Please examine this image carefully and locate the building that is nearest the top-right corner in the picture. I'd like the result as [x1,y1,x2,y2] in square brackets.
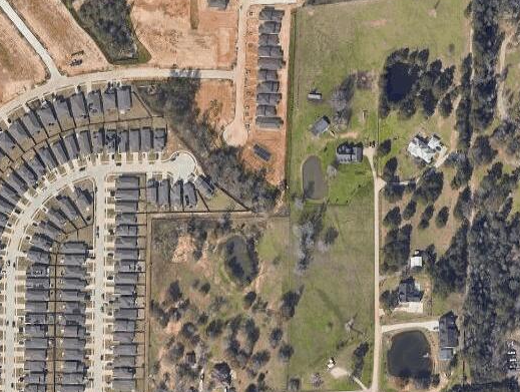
[406,137,446,162]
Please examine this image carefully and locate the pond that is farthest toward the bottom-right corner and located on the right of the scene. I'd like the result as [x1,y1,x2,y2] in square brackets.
[386,328,431,385]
